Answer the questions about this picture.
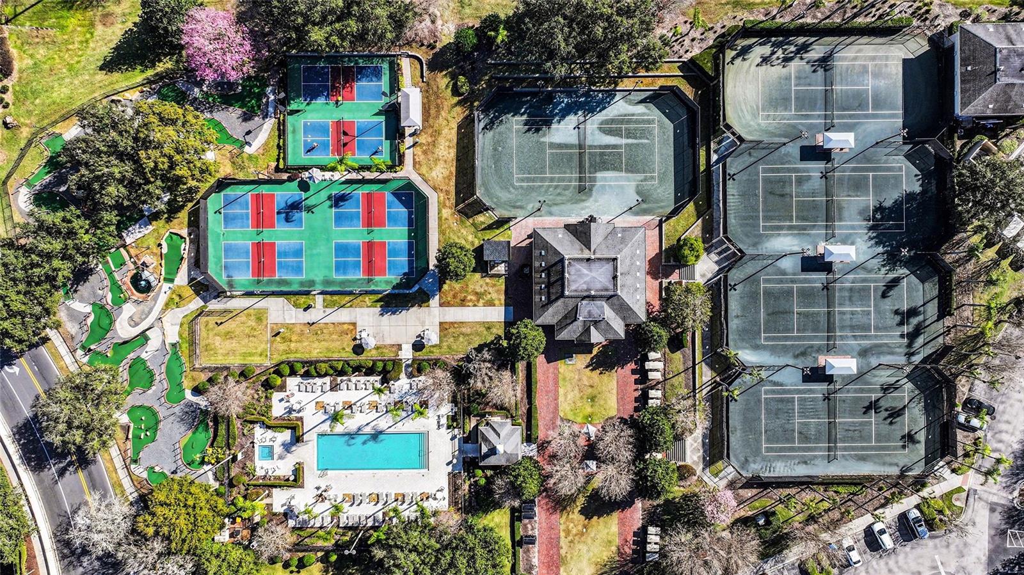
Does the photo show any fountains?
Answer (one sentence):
Yes, looking at the shot, I can spot a fountain.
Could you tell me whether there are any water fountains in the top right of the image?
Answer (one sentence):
No, in the top right of the image there is no water fountain.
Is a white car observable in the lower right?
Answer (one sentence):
Yes, a white car is visible in the lower right.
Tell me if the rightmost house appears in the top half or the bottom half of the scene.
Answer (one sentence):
The top half of the photo is where the rightmost house is.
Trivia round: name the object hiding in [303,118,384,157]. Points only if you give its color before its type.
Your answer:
blue sports court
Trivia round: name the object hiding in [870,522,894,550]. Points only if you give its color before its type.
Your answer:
white car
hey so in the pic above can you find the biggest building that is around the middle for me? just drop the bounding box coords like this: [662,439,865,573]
[533,223,647,344]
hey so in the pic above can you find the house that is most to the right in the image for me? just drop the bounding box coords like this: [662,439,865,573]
[951,23,1024,116]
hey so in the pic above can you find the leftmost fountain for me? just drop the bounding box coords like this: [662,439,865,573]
[124,264,158,298]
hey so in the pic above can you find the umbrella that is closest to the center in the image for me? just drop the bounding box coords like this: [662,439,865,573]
[424,331,437,345]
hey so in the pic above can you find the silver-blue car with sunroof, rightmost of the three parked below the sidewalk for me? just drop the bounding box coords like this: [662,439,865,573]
[905,509,928,539]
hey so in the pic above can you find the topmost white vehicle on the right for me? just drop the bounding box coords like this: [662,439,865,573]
[967,415,987,433]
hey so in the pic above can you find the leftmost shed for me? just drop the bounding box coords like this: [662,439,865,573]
[224,516,252,543]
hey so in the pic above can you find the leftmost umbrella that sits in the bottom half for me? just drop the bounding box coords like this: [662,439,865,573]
[283,506,297,521]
